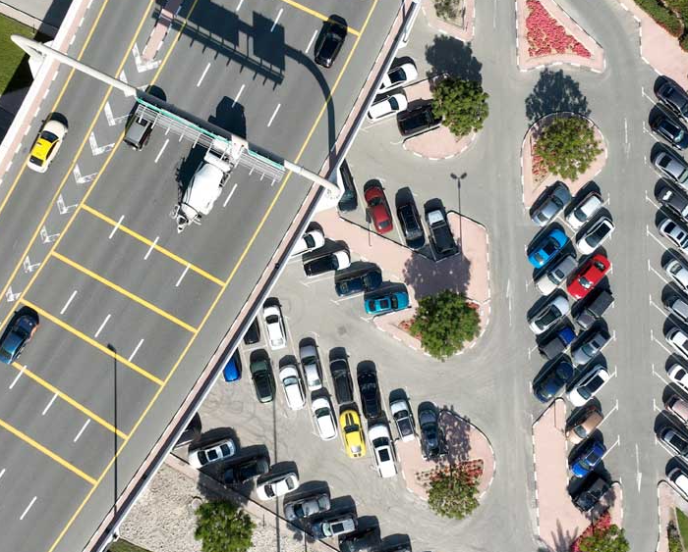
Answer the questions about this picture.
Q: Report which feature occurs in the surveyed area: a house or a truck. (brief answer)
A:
truck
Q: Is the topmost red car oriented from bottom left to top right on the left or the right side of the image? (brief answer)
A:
right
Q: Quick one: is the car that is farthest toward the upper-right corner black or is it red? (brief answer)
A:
black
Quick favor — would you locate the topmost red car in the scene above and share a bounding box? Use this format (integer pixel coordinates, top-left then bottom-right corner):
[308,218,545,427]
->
[363,183,396,235]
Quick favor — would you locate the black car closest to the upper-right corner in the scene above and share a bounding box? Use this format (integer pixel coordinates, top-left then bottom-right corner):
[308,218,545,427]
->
[652,75,688,120]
